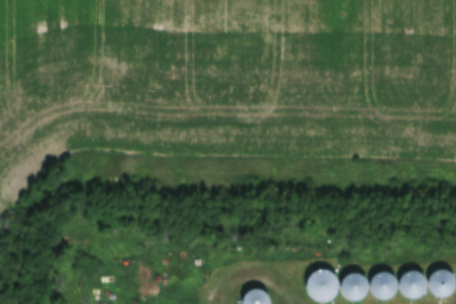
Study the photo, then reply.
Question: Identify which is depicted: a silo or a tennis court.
silo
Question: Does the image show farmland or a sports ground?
farmland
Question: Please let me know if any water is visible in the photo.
No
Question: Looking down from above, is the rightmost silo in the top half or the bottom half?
bottom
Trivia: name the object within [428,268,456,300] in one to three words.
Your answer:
silo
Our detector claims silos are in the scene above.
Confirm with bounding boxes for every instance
[340,272,369,303]
[240,288,272,304]
[306,268,340,302]
[369,271,398,303]
[398,270,428,302]
[428,268,456,300]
